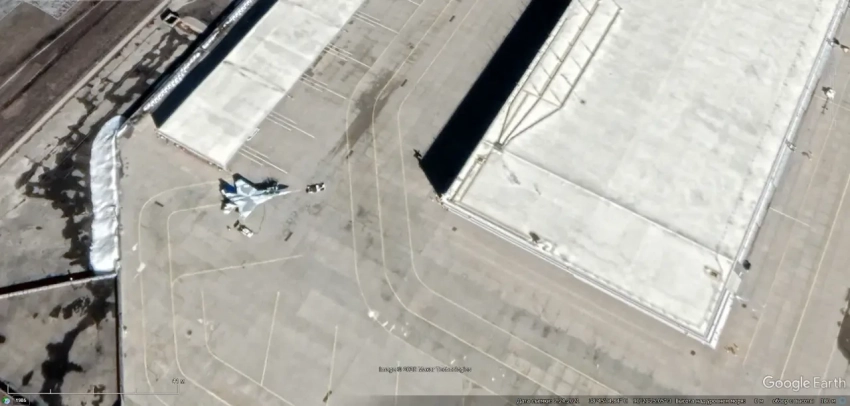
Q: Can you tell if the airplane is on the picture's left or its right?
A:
left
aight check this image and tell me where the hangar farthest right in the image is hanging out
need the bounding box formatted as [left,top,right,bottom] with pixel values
[446,0,850,345]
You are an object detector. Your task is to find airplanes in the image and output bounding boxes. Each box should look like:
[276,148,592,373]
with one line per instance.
[221,180,293,220]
